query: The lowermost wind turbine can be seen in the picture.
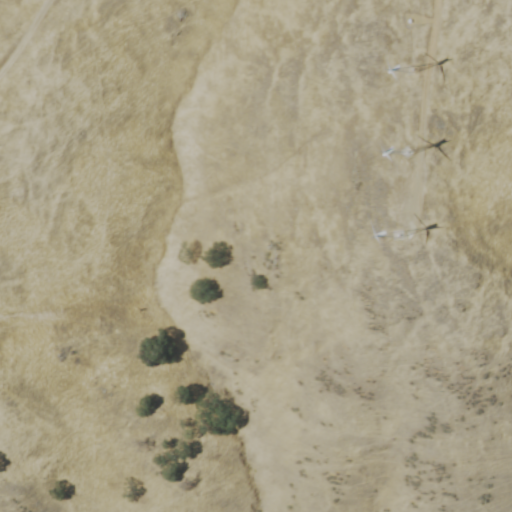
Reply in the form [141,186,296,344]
[370,227,402,250]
